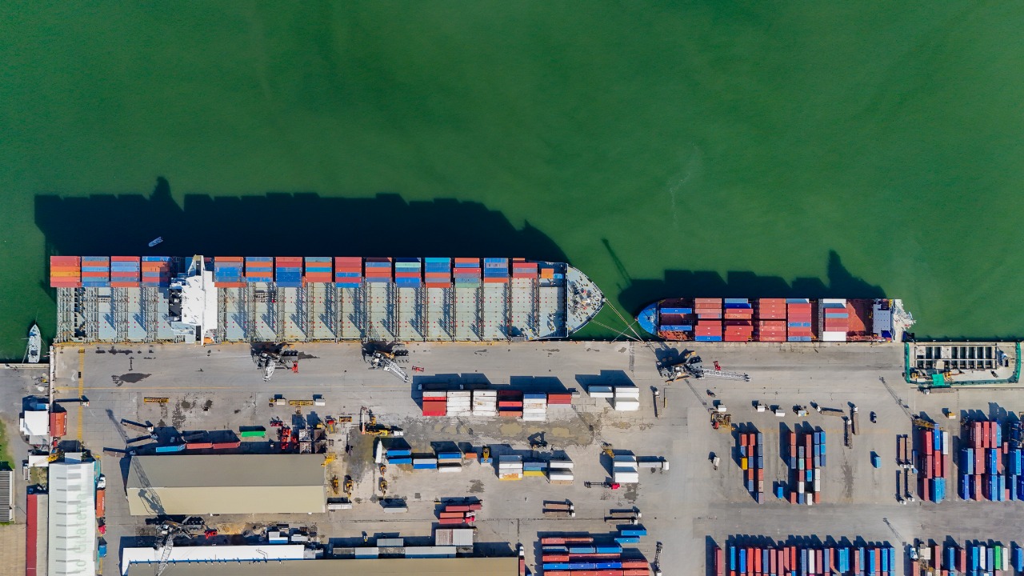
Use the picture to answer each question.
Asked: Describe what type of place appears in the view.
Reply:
port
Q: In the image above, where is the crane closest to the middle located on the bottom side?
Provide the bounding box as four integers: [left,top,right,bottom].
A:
[362,344,411,385]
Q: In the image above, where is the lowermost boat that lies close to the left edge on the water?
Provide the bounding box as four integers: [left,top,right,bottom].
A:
[19,310,52,364]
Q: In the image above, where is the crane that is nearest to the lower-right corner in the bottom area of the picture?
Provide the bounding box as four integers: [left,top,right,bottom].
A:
[658,356,753,383]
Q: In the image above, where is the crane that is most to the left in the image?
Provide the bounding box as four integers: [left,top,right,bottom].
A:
[147,515,199,576]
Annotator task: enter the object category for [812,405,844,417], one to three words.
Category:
vehicle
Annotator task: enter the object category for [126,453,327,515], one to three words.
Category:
building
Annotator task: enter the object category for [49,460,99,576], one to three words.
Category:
building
